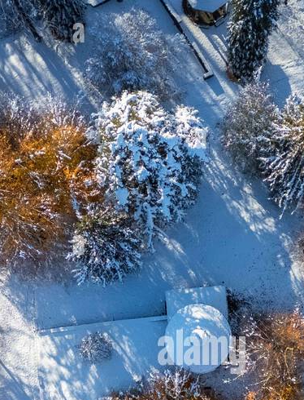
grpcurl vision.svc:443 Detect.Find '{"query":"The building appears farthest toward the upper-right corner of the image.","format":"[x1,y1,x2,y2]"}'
[187,0,230,30]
